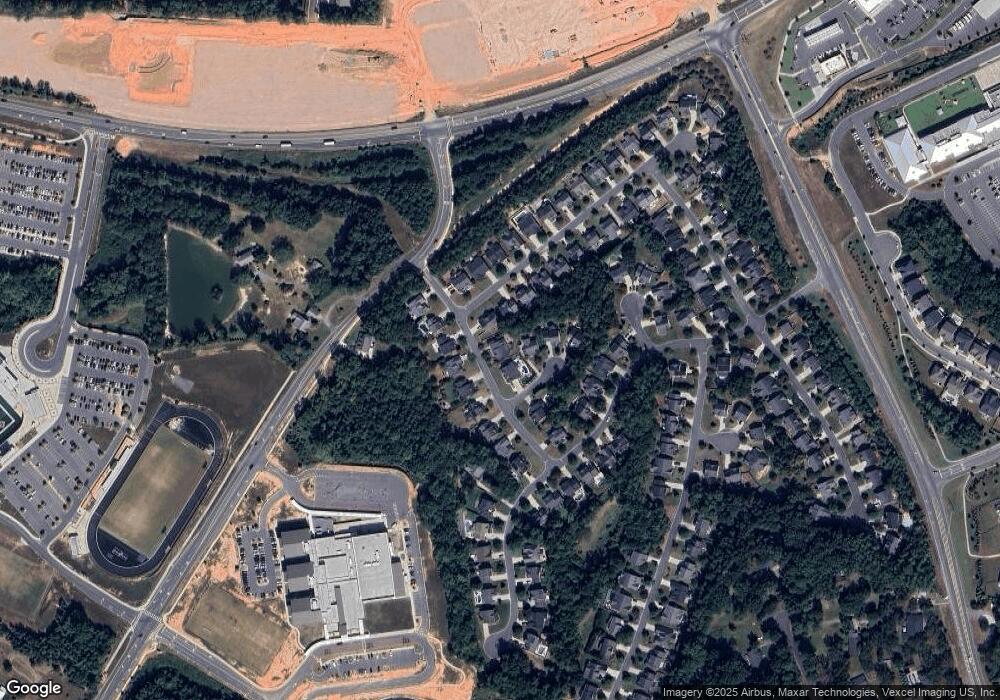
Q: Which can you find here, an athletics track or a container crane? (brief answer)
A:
athletics track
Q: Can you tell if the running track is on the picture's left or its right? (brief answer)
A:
left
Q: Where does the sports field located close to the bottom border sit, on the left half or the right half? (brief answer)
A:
left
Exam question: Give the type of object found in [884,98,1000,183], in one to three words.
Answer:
building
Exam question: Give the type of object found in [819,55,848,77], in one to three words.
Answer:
building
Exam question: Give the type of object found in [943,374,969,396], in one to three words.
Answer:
house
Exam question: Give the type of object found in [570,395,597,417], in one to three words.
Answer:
house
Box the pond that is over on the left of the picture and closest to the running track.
[167,229,240,332]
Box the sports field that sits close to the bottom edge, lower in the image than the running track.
[188,586,290,677]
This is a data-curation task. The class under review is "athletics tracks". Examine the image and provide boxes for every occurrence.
[92,403,221,570]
